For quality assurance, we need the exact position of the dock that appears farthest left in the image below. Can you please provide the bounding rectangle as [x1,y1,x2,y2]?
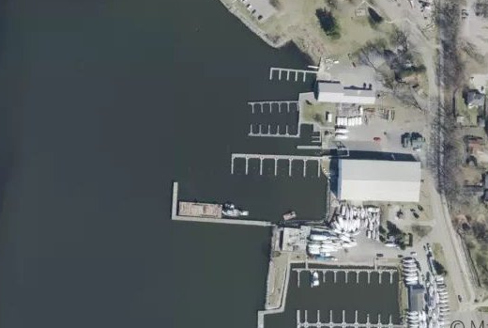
[171,182,271,227]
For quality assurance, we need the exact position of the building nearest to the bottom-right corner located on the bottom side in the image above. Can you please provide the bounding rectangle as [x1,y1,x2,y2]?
[408,287,424,311]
